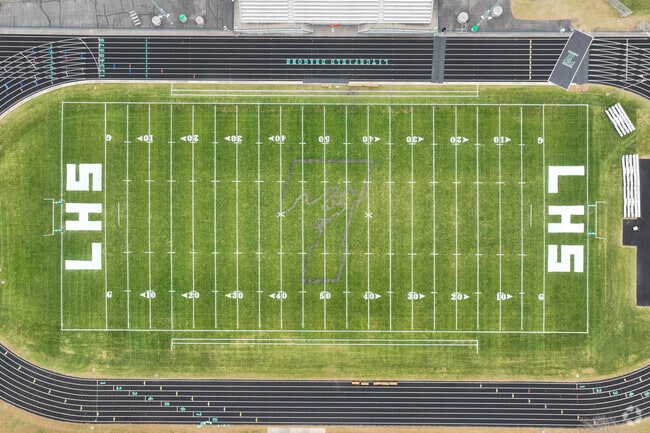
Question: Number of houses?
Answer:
0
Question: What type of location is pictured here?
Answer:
sports ground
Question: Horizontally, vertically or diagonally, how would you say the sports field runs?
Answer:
horizontally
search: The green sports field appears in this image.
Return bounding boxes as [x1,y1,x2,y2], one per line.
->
[61,83,588,354]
